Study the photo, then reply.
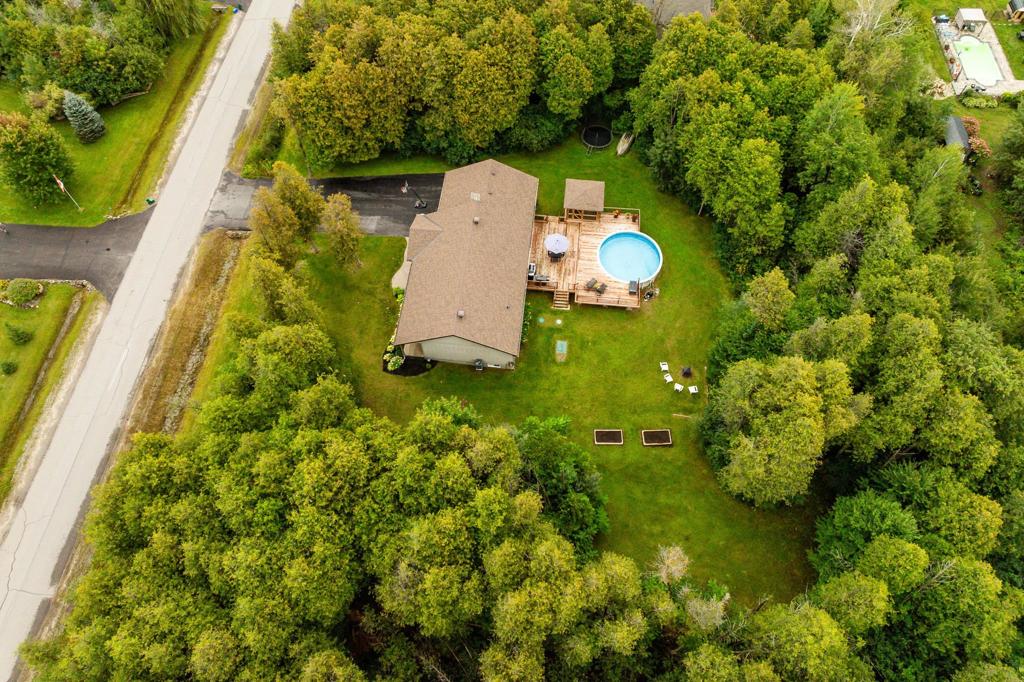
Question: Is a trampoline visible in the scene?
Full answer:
Yes, I can see a trampoline in this picture.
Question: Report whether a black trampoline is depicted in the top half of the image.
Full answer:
Yes, a black trampoline shows up in the top half of the image.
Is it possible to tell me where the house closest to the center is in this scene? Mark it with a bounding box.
[392,160,540,368]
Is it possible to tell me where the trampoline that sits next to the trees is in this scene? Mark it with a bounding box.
[582,119,614,151]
